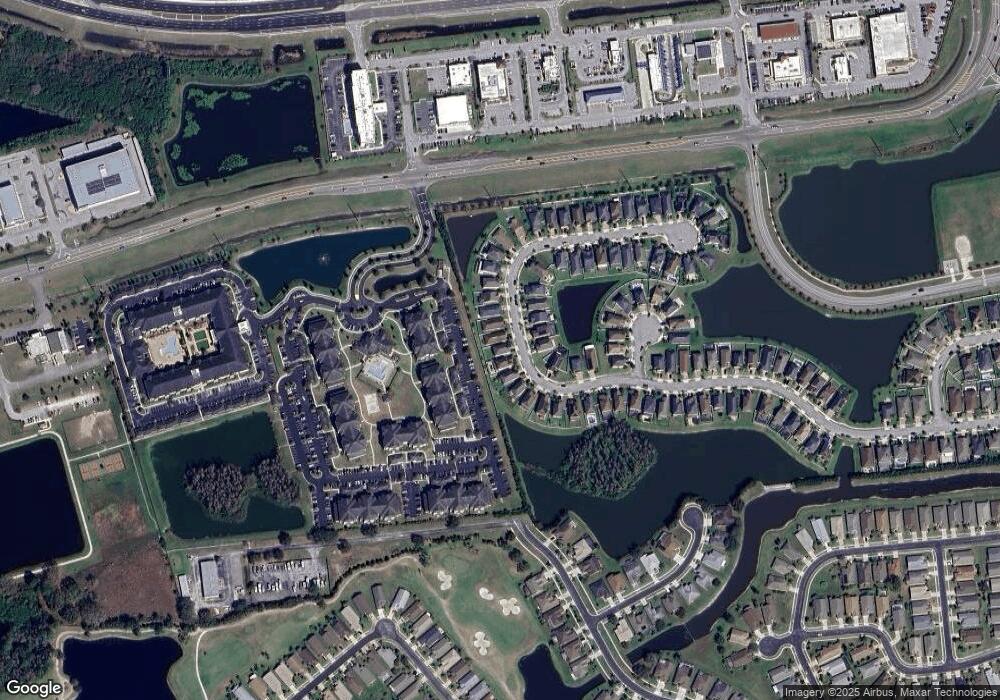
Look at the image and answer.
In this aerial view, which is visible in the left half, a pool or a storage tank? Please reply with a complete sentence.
The one visible in the left half is a pool.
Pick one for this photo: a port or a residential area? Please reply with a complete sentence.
The picture captures a residential area.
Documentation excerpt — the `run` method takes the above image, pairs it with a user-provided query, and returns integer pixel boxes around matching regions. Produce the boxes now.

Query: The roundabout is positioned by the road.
[339,293,385,331]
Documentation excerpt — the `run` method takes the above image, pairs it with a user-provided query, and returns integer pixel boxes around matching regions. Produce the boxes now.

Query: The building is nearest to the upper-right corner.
[867,12,912,76]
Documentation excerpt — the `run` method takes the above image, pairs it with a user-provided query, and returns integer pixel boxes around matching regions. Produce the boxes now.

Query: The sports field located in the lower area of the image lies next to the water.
[62,409,118,452]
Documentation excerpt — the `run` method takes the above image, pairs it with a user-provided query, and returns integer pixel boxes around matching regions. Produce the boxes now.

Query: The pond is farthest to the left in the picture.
[0,102,77,144]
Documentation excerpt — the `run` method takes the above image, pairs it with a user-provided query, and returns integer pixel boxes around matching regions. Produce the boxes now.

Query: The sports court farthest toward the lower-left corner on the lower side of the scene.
[80,450,125,480]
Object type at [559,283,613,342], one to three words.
pond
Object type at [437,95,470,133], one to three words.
building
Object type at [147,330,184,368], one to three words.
swimming pool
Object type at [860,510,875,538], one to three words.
house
